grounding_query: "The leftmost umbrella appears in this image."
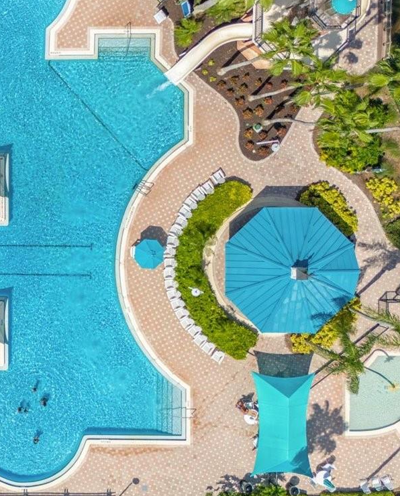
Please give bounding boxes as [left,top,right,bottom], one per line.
[134,239,163,269]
